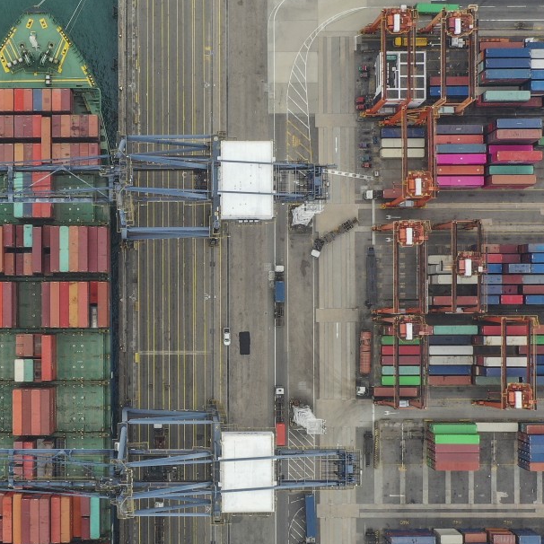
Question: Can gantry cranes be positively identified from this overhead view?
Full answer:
Yes, a gantry crane is visible in the scene.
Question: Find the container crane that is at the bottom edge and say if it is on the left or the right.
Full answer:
The container crane that is at the bottom edge appears in the left half of the scene.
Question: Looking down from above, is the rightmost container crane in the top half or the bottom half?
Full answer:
The rightmost container crane sits in the bottom half of the picture.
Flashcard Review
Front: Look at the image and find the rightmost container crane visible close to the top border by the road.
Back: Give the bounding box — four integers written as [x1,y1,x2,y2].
[414,3,479,114]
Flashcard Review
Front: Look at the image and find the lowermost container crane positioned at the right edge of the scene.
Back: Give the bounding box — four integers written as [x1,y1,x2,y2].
[468,314,537,414]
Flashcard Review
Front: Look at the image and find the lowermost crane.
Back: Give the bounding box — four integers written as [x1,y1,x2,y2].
[0,400,361,519]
